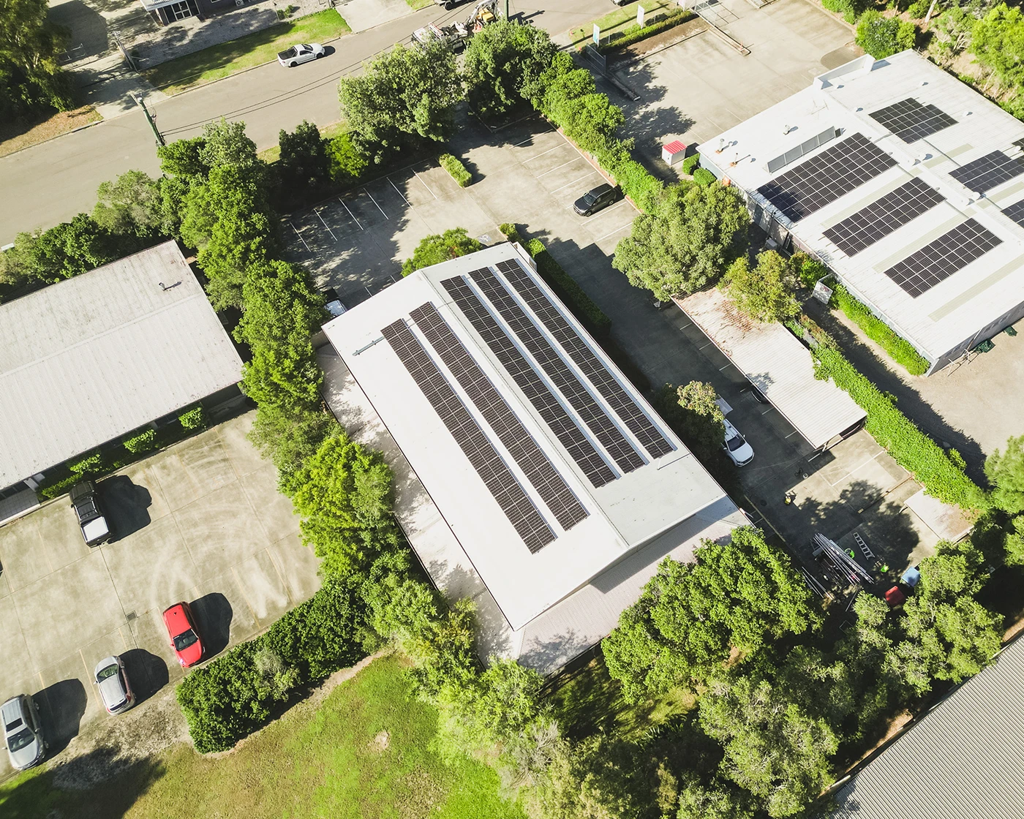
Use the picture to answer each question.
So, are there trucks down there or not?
Yes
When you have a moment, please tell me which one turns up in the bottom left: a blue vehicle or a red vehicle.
red vehicle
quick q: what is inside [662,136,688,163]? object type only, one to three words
shed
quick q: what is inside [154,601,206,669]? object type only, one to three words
car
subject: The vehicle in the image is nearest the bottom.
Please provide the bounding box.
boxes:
[0,691,46,773]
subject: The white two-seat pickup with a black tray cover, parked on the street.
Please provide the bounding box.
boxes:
[278,43,326,67]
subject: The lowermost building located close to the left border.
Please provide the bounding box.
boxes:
[0,239,250,501]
